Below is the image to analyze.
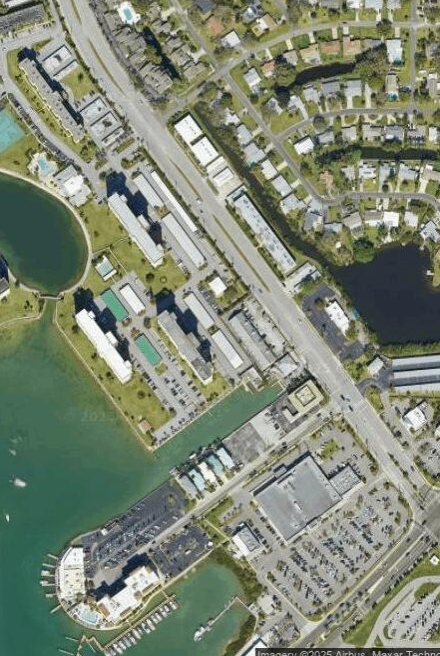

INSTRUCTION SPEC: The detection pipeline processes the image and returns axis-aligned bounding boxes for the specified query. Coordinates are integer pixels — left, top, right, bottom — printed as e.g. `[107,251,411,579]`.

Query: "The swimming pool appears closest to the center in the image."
[95,257,116,280]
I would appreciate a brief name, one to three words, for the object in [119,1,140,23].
swimming pool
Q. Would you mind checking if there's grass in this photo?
Yes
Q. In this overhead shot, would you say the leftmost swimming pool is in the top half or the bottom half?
top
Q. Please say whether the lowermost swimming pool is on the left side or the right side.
left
